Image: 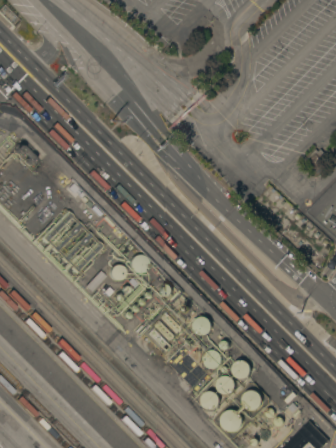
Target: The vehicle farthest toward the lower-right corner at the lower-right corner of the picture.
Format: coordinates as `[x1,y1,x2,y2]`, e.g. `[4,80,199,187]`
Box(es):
[308,390,336,419]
